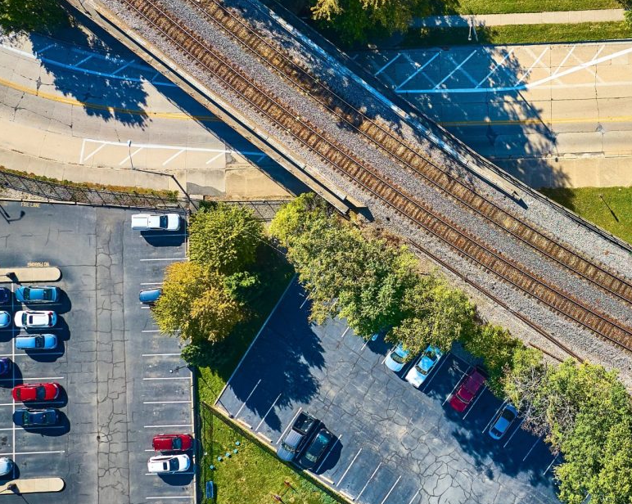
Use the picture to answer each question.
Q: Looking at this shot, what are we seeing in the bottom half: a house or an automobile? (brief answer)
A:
automobile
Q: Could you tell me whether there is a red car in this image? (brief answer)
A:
Yes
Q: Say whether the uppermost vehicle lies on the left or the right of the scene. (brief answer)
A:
left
